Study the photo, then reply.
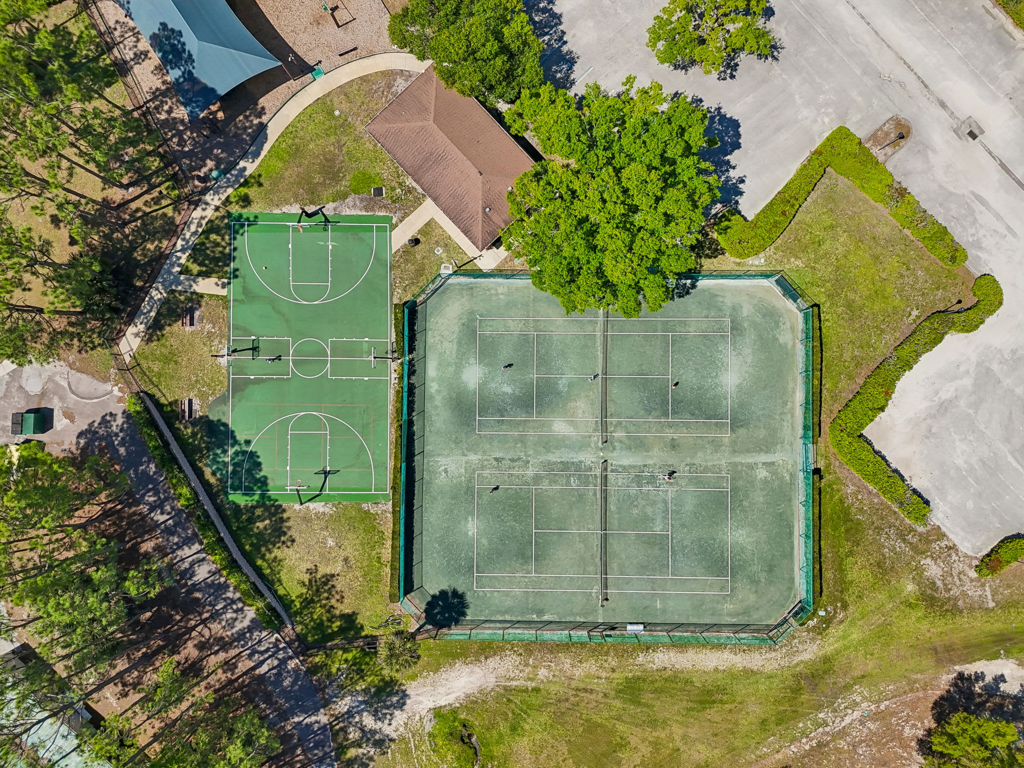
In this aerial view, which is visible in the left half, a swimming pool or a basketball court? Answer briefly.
basketball court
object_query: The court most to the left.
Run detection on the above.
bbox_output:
[208,212,392,502]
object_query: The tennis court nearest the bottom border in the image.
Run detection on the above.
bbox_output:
[404,454,801,634]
